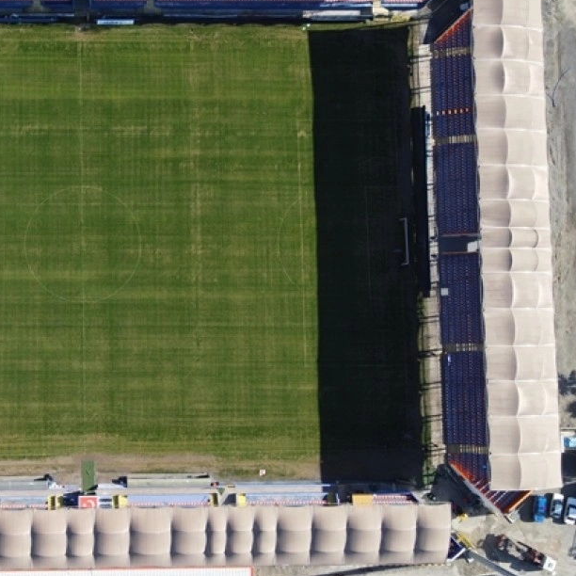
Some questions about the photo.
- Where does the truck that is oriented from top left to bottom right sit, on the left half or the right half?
right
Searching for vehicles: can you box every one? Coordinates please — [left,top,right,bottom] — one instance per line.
[562,496,576,523]
[548,491,564,518]
[501,535,563,576]
[533,495,548,521]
